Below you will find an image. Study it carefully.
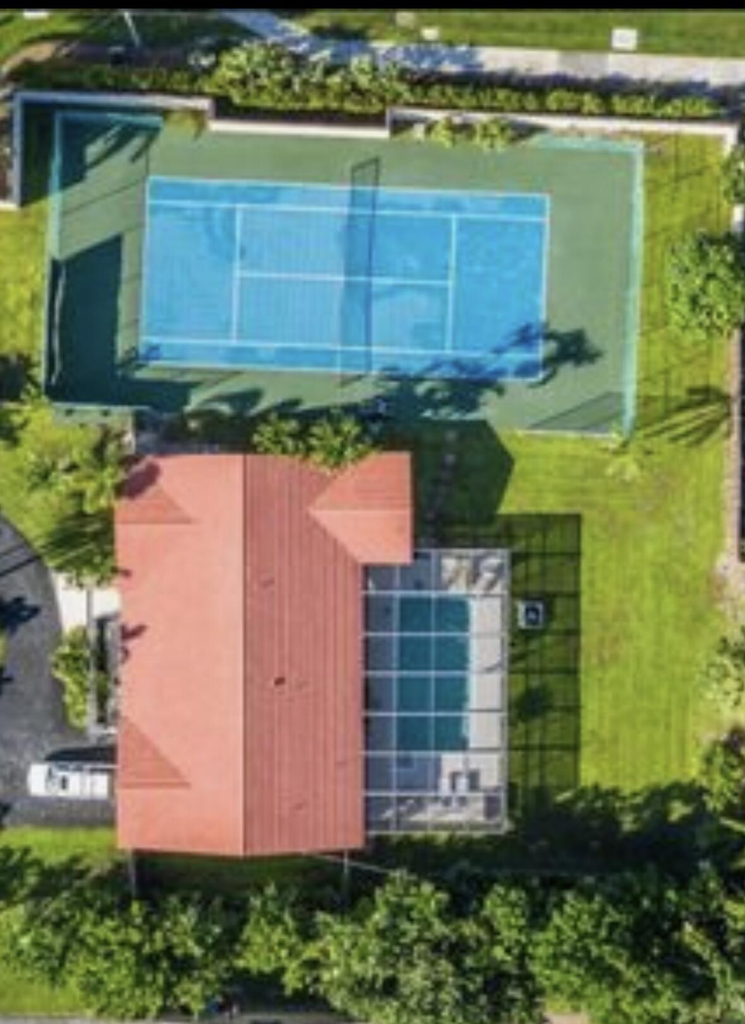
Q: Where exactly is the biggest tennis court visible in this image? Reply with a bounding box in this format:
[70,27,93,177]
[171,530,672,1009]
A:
[52,119,635,431]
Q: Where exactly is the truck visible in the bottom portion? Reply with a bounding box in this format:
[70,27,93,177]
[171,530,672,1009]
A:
[28,761,113,801]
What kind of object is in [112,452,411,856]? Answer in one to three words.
house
